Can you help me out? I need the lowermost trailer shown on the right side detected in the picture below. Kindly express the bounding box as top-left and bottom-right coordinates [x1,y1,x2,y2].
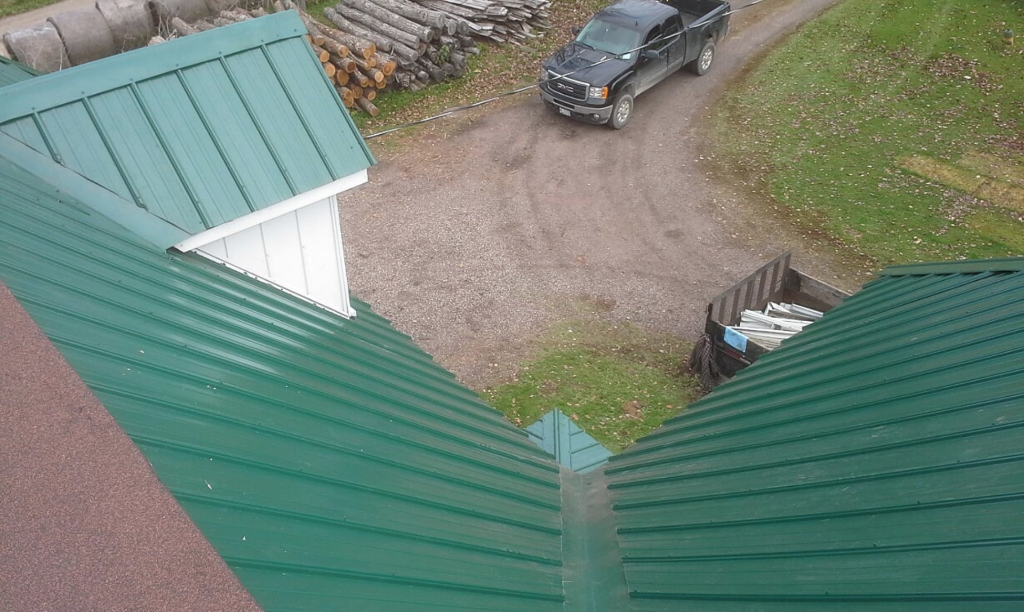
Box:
[706,250,845,381]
